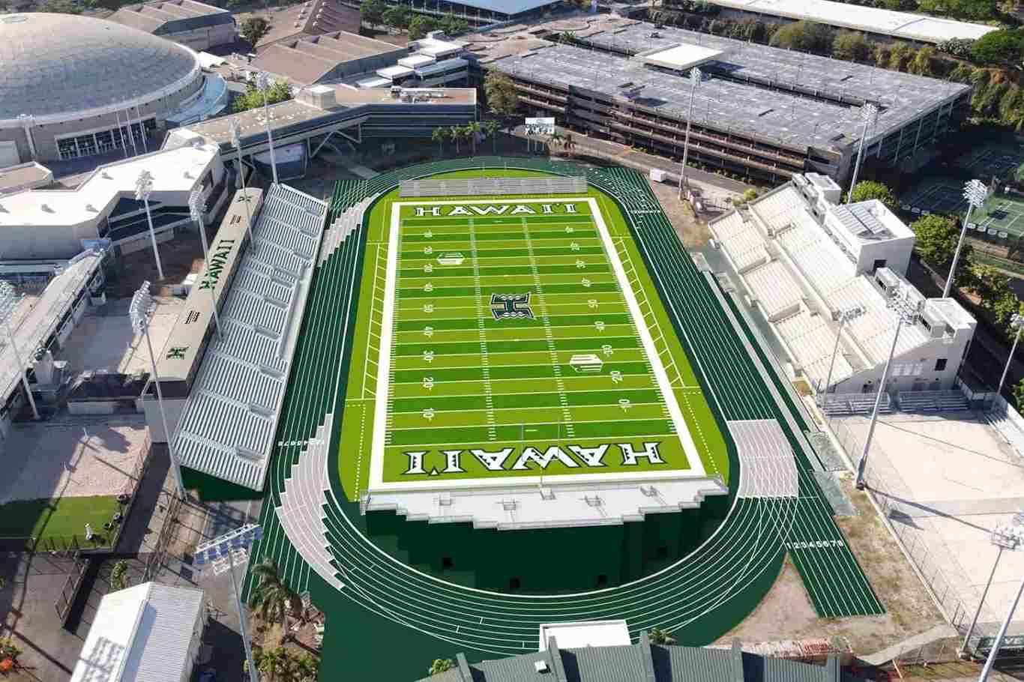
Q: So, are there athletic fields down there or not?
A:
Yes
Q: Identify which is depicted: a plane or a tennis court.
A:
tennis court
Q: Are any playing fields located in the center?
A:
Yes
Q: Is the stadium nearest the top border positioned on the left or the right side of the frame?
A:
left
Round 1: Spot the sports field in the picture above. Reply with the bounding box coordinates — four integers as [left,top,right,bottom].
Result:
[338,168,726,501]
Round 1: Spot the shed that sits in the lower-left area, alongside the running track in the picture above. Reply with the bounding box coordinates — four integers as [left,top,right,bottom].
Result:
[70,583,207,682]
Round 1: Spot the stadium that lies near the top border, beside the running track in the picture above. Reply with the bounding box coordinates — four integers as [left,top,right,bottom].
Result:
[0,12,257,167]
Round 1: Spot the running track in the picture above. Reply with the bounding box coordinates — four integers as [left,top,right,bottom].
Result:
[225,154,887,682]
